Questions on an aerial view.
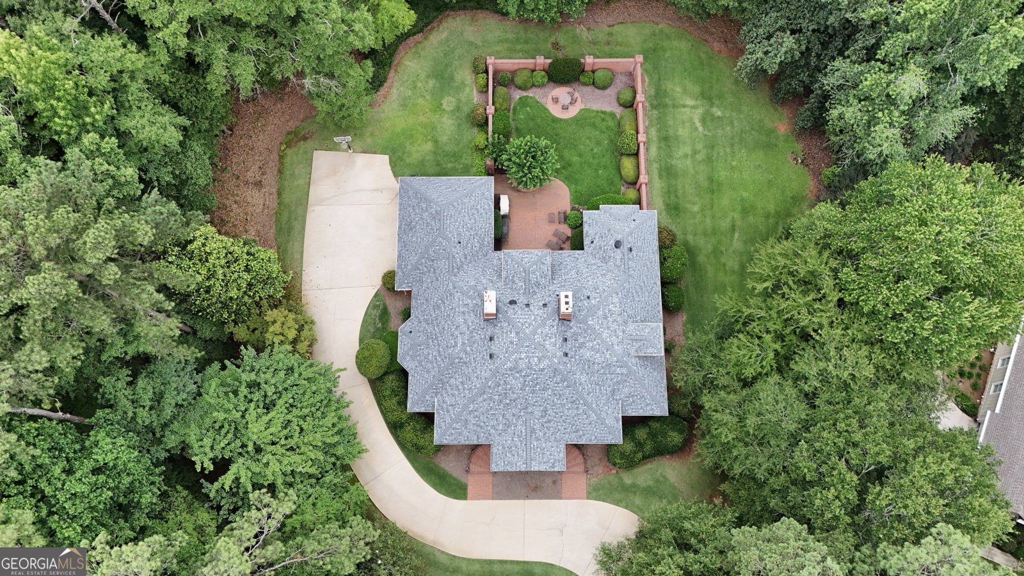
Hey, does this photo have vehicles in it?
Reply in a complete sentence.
No, I can't see a single vehicle in this photo.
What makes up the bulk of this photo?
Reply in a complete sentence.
The largest share of the image is taken up by trees.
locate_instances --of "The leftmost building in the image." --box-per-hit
[393,176,668,473]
